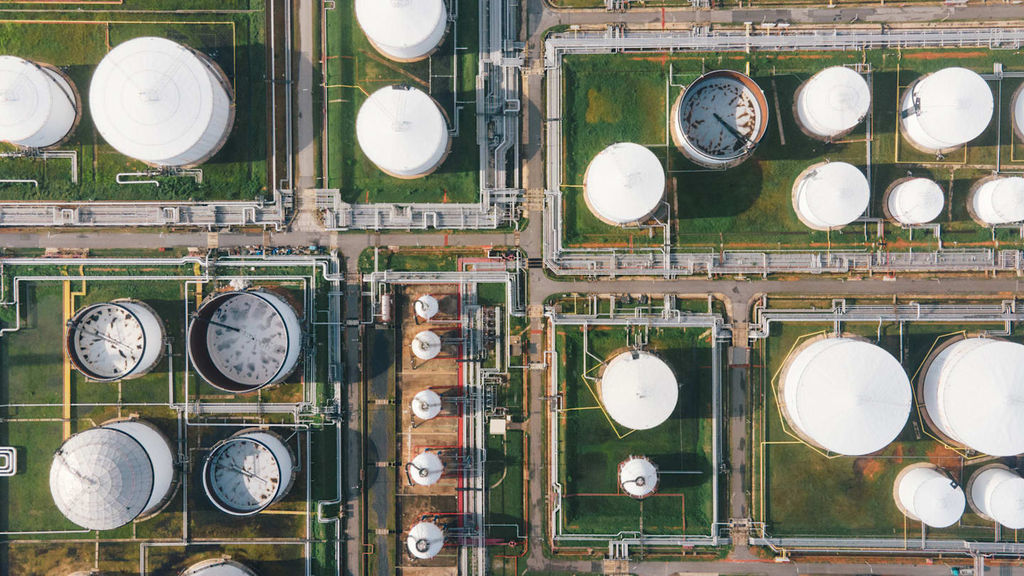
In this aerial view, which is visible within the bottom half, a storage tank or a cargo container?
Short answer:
storage tank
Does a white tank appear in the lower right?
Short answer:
Yes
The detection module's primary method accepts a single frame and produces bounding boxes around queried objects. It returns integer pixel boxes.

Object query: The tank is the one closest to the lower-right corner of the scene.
[965,464,1024,530]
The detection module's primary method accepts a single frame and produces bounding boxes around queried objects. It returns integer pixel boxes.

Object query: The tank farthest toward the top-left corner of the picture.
[0,54,81,155]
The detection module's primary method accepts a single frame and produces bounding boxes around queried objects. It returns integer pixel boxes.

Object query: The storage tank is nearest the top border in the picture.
[354,0,451,62]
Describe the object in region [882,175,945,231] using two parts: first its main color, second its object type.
white storage tank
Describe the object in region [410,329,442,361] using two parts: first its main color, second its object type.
white storage tank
